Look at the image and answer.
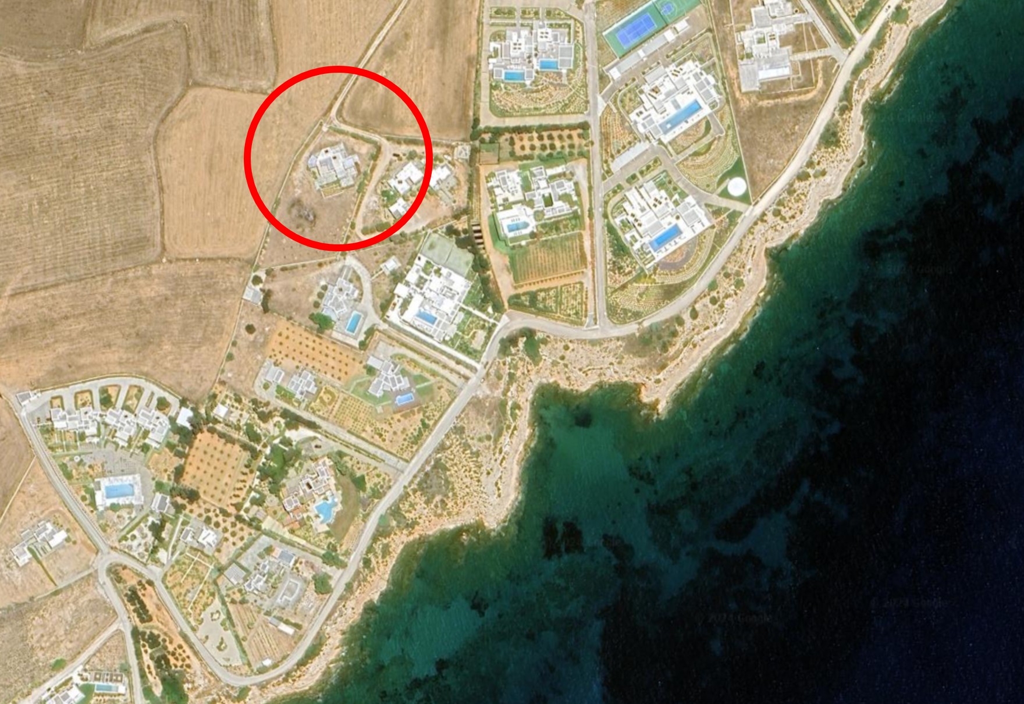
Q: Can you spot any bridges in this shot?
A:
No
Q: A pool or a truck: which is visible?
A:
pool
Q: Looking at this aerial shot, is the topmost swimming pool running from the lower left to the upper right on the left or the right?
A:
right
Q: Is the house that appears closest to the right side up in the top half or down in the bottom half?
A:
top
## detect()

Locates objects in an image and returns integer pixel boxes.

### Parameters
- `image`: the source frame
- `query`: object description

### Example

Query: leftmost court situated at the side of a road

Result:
[602,0,667,59]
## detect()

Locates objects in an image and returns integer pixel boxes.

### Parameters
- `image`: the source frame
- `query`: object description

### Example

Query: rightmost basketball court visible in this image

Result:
[653,0,702,25]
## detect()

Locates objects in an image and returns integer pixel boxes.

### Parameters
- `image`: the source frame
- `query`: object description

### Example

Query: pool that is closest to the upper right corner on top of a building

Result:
[658,99,703,135]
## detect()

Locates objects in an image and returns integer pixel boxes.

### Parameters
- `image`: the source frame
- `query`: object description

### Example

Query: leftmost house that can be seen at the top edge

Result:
[489,27,534,84]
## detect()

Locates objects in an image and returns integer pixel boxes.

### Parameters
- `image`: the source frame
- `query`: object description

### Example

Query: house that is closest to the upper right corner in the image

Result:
[736,0,802,92]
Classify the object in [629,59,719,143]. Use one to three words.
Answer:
house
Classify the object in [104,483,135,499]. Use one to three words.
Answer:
swimming pool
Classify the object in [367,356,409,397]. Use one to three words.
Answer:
house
